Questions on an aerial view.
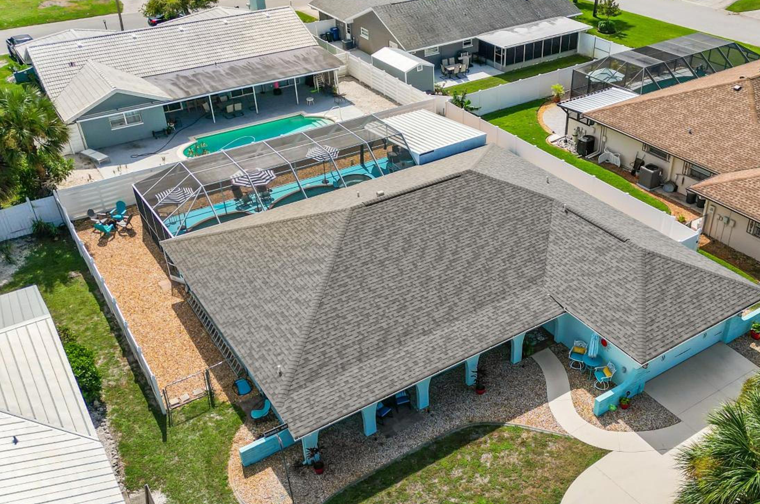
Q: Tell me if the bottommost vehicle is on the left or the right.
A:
left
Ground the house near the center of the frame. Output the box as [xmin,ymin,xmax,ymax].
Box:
[161,133,760,466]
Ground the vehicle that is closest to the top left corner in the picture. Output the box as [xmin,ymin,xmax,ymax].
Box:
[1,28,27,55]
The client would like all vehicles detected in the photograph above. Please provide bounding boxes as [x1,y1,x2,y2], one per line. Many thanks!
[1,28,27,55]
[143,6,191,24]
